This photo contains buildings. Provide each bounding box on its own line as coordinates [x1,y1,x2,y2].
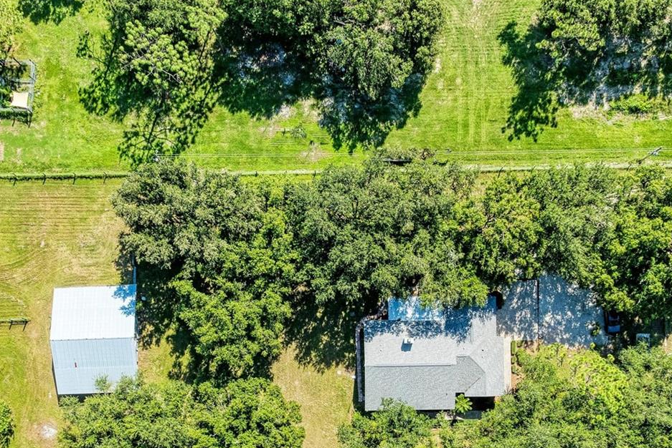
[364,296,505,412]
[50,284,139,396]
